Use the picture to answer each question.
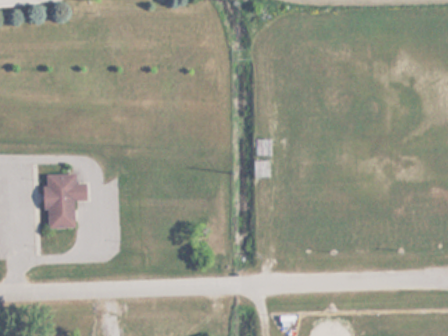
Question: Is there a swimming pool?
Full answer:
No, the scene contains no swimming pool.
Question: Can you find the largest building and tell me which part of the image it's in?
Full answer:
The largest building appears toward the left of the photo.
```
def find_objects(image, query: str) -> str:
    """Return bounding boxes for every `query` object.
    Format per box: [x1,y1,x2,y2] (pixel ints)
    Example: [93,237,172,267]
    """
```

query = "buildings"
[44,175,88,230]
[280,316,298,332]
